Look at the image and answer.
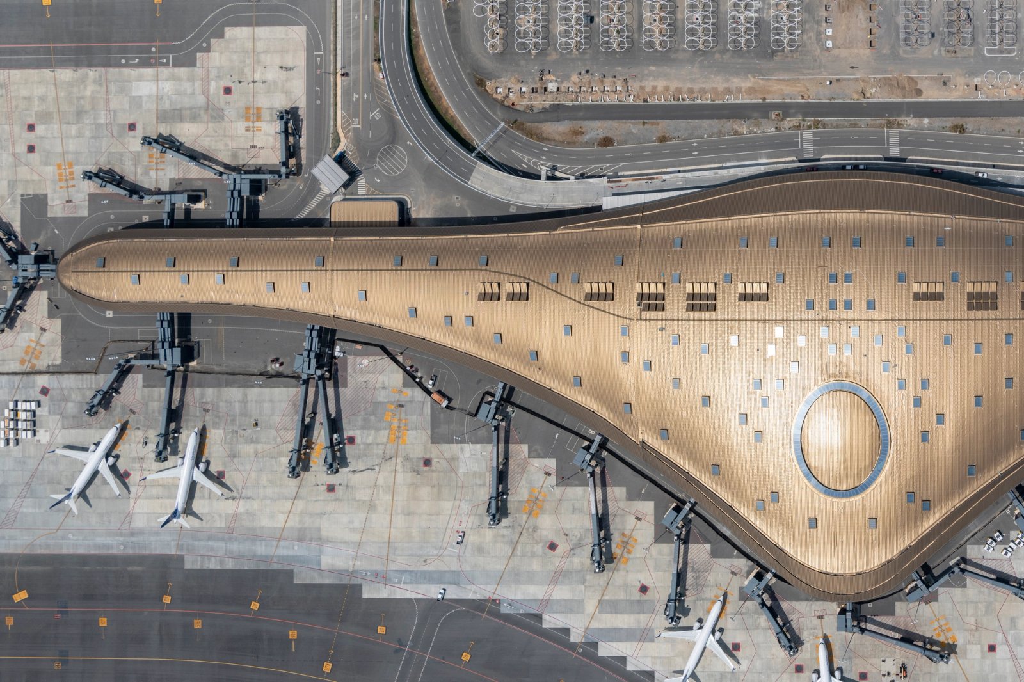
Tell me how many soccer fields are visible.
zero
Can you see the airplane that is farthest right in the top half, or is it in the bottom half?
bottom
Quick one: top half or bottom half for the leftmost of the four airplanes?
bottom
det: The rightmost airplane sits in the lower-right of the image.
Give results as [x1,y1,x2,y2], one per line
[811,638,845,682]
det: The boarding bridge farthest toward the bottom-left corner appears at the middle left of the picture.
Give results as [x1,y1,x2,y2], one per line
[87,312,197,468]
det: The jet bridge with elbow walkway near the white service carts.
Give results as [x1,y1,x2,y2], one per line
[907,561,1024,602]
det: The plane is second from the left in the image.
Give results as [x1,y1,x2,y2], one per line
[136,428,224,529]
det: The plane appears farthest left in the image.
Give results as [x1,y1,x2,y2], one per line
[43,423,123,515]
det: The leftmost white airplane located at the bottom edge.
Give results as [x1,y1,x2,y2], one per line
[655,596,737,682]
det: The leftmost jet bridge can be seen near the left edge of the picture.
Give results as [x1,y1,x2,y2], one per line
[0,215,58,333]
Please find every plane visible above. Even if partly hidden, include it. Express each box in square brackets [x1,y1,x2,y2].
[655,596,737,682]
[43,423,123,515]
[811,638,845,682]
[136,428,224,529]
